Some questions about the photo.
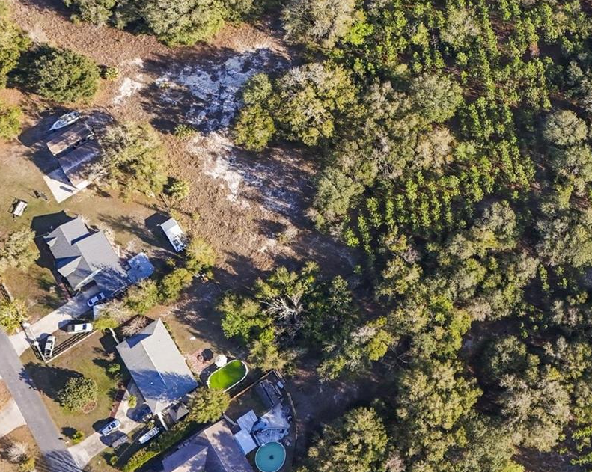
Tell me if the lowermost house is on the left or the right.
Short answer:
left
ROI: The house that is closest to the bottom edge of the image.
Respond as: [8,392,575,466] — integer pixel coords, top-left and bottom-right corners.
[146,419,257,472]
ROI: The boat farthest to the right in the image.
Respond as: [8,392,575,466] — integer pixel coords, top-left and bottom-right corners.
[139,428,160,442]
